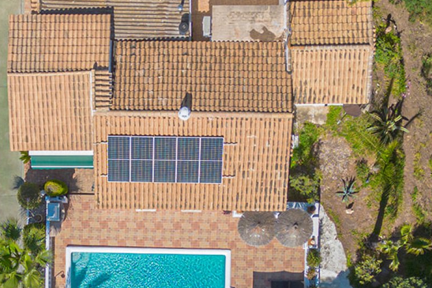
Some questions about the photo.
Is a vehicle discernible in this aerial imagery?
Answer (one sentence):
No, no vehicle is visible in the view.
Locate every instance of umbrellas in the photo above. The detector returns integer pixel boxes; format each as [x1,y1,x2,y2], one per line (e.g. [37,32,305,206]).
[236,206,276,248]
[270,203,314,247]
